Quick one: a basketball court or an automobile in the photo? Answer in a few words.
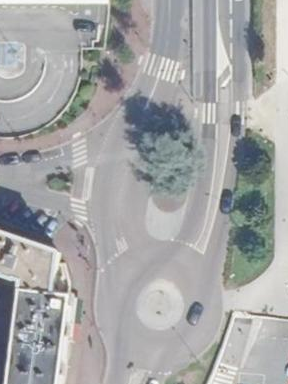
automobile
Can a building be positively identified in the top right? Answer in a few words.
No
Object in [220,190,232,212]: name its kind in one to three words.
vehicle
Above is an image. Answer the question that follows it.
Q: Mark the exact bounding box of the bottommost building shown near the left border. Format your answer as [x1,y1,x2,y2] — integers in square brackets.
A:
[4,287,76,384]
